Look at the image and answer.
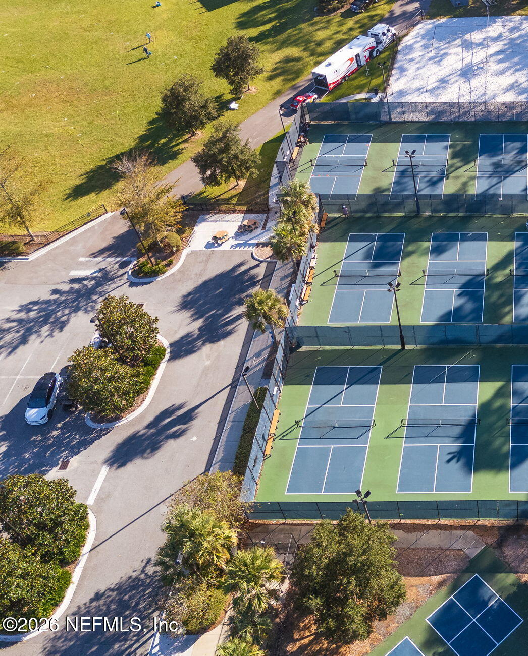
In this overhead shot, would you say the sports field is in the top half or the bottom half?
top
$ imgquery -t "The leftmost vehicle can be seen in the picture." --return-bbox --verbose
[24,376,66,422]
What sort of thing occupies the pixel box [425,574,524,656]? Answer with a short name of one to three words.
sports court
